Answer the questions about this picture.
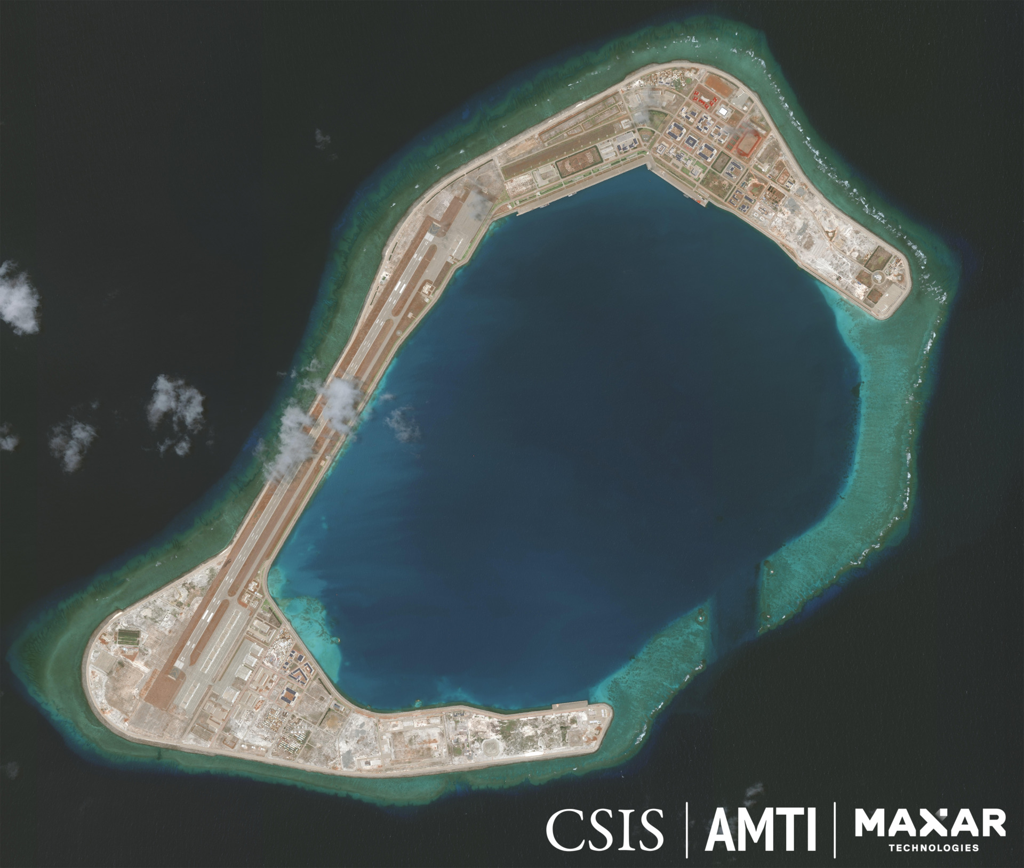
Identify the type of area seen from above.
port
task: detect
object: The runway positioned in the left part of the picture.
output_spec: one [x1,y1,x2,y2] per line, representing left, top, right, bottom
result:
[166,218,442,683]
